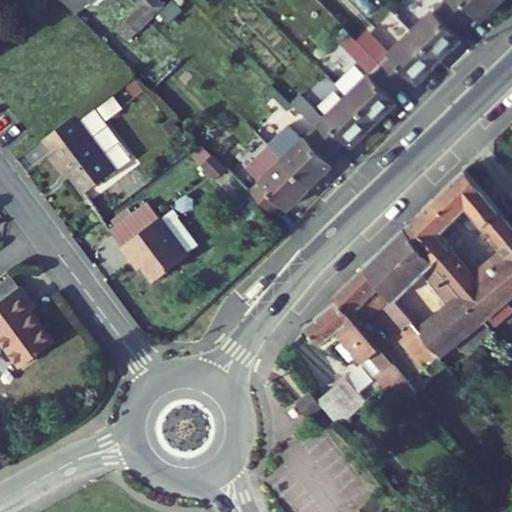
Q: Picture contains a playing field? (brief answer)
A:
No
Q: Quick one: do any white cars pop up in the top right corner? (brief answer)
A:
Yes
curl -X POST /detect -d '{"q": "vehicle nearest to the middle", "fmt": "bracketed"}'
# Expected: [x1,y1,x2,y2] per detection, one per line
[249,273,275,298]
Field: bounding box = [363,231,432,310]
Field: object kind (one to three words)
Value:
building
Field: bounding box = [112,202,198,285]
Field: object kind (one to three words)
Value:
house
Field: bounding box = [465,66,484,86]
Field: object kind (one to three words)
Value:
car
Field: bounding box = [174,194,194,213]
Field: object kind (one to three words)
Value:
gazebo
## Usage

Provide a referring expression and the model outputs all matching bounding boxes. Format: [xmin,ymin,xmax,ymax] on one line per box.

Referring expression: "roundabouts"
[113,356,257,499]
